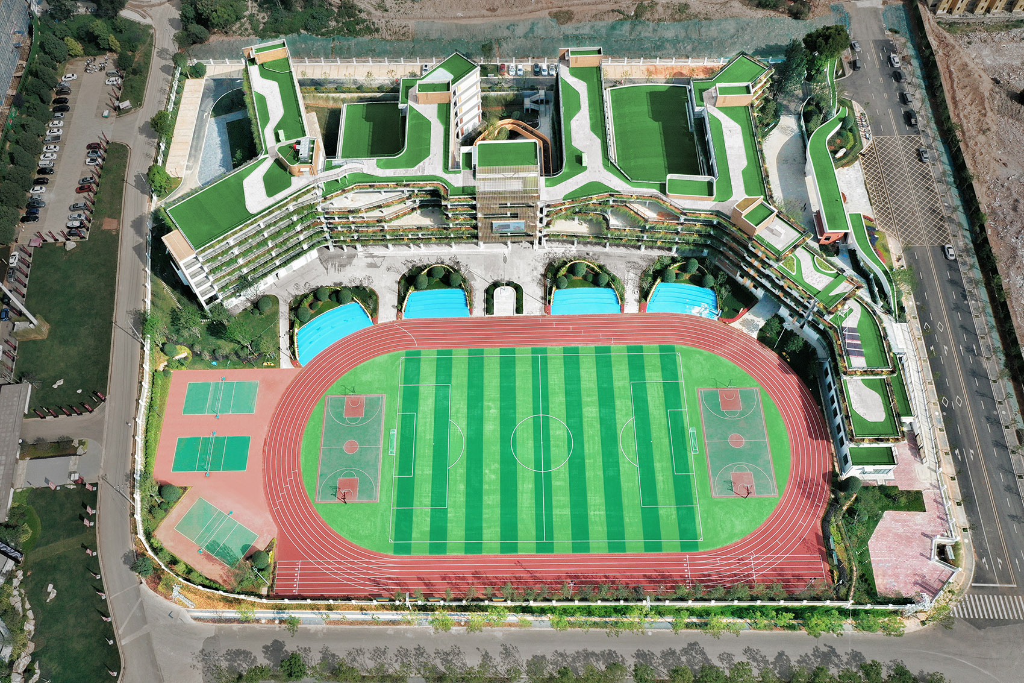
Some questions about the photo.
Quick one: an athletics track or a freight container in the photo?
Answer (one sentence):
Visible in the photo is an athletics track.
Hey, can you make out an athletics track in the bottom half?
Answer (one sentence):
Yes, an athletics track appears in the bottom half.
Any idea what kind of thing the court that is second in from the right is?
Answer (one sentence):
What you see as the court that is second in from the right is a basketball court.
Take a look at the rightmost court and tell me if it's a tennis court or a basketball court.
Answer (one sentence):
What you see as the rightmost court is a basketball court.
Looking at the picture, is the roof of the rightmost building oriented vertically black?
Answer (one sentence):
No, the roof of the rightmost building oriented vertically is actually green.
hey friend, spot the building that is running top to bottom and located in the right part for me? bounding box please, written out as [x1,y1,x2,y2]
[799,106,849,245]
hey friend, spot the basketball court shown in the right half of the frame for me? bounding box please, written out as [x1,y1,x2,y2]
[697,388,779,498]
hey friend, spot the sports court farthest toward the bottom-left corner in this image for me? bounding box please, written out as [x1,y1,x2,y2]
[174,497,259,568]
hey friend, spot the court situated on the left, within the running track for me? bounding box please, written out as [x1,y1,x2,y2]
[313,394,387,504]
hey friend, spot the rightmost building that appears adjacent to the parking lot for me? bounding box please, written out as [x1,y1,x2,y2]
[161,40,915,484]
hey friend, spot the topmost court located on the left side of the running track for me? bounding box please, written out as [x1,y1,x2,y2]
[182,381,259,415]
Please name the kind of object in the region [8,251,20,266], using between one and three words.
vehicle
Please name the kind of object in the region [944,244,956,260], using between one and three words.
vehicle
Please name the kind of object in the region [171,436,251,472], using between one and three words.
sports court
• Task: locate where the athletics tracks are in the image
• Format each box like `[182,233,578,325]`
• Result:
[263,315,837,597]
